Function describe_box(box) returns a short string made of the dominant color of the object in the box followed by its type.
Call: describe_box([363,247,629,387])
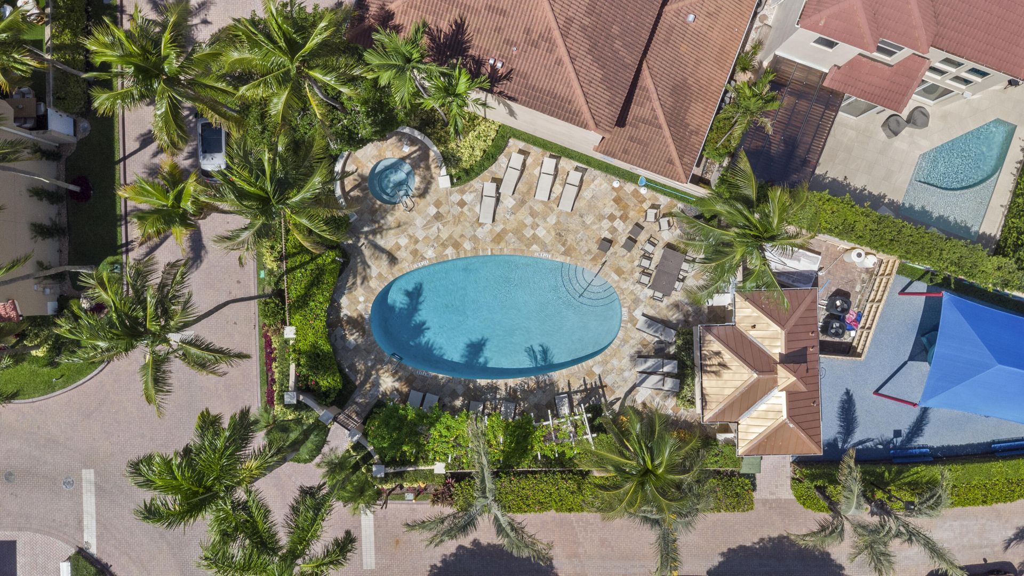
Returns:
blue swimming pool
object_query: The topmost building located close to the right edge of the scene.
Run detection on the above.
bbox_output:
[752,0,1024,114]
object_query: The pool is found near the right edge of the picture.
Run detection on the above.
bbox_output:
[900,118,1017,240]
